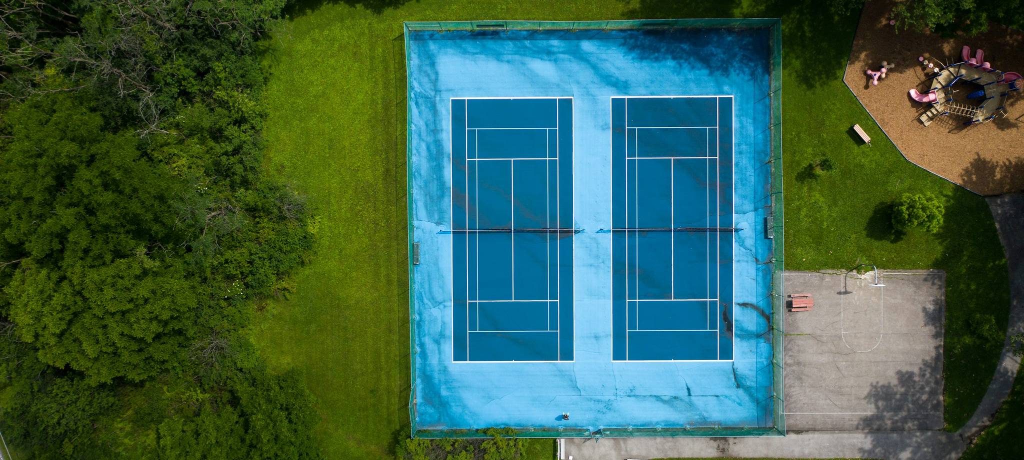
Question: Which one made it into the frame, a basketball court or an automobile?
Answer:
basketball court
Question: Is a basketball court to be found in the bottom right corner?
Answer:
Yes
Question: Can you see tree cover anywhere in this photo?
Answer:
Yes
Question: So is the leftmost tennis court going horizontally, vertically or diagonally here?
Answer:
vertically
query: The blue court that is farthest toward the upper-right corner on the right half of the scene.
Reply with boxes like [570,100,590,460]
[610,95,735,362]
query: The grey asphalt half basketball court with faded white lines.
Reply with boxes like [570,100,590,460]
[776,270,945,431]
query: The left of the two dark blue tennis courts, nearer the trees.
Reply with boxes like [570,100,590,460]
[451,96,575,362]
